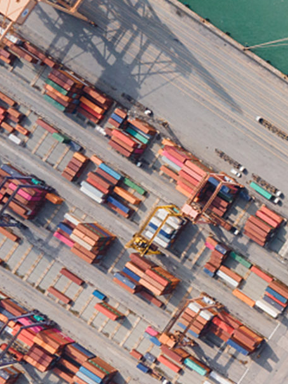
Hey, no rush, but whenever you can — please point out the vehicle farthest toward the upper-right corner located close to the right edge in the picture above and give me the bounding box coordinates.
[257,117,288,139]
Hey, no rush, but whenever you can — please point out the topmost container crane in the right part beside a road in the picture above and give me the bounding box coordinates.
[180,172,242,227]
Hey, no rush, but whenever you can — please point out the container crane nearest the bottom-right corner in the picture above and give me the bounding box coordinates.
[157,292,220,350]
